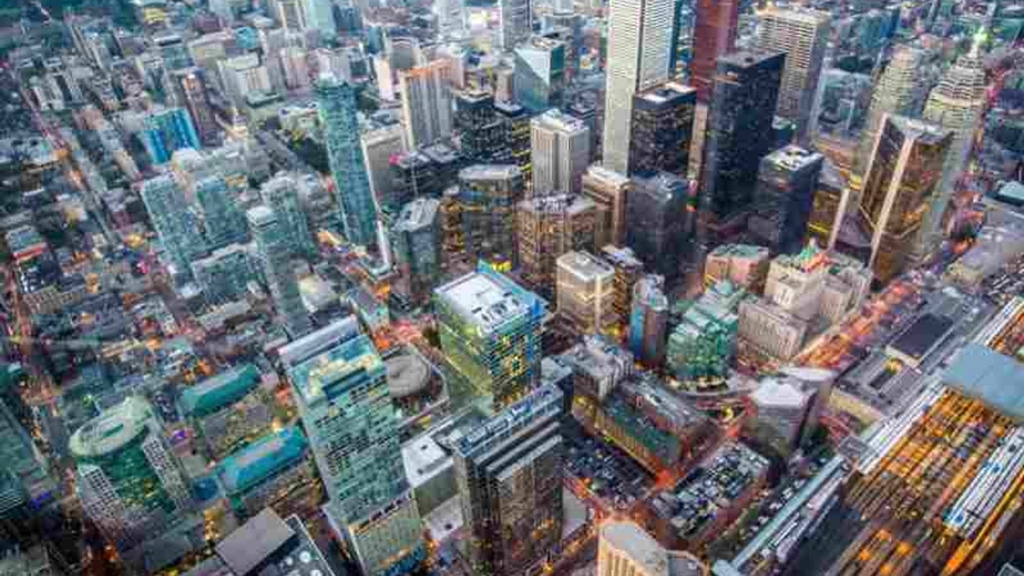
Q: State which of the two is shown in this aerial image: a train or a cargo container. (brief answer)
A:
train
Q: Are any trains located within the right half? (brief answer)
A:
Yes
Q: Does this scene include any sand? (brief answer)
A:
No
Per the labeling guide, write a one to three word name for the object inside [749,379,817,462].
building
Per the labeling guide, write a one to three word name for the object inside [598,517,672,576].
building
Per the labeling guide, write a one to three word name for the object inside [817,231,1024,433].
train station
